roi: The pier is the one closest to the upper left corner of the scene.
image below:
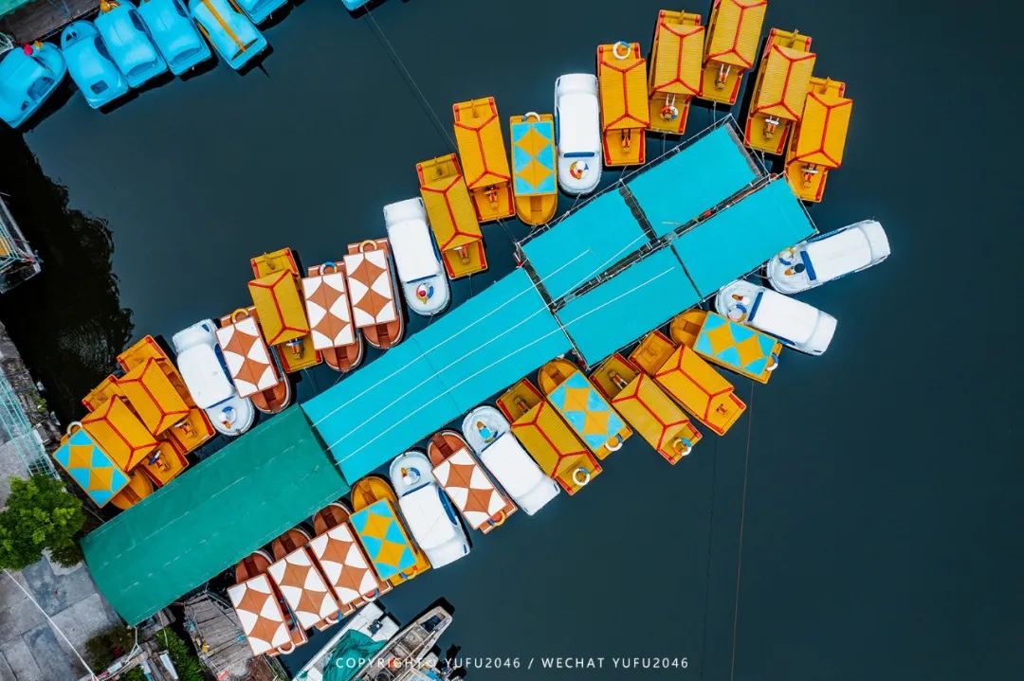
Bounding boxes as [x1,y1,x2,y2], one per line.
[1,0,95,44]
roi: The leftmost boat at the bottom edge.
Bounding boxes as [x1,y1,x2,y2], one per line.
[229,549,310,660]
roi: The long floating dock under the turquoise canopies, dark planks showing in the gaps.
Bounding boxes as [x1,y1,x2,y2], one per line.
[515,113,820,371]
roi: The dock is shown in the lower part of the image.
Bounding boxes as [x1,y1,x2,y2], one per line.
[182,578,283,681]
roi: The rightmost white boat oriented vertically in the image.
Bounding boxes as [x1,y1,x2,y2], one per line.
[553,73,603,207]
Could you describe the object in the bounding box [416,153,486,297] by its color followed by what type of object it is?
yellow boat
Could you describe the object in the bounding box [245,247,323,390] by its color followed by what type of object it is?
yellow boat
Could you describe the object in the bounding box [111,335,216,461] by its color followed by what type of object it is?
orange boat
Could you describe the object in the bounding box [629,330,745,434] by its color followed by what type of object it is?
orange boat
